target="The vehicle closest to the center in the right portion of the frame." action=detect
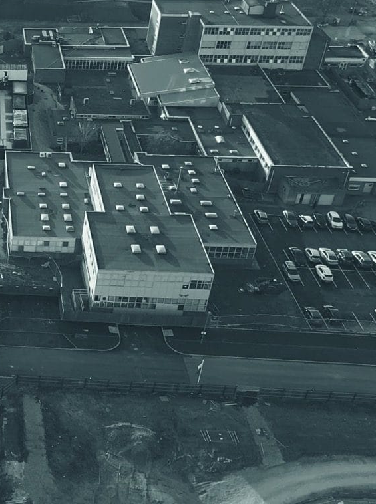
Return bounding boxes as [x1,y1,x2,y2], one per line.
[254,209,269,224]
